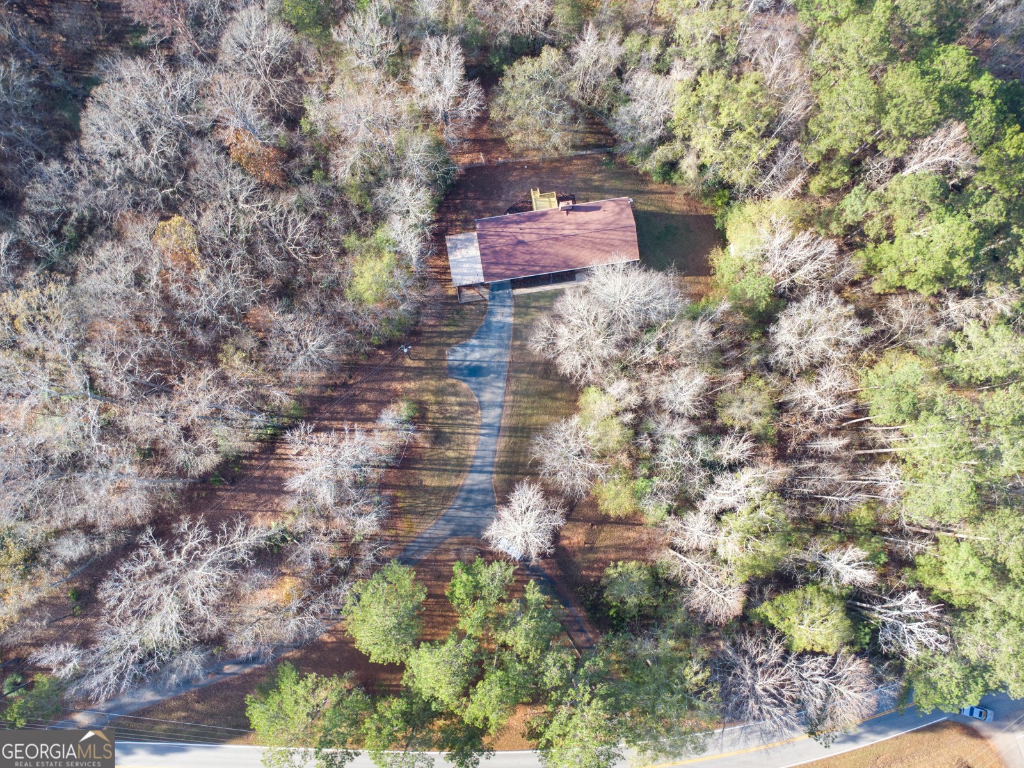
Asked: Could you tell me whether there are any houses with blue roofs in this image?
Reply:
No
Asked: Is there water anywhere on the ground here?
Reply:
No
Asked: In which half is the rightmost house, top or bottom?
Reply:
top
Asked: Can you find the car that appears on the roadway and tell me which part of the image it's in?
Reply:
bottom right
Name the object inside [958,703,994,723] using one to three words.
car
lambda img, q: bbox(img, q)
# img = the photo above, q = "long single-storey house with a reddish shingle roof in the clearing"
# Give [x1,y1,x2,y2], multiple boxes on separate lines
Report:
[474,196,639,284]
